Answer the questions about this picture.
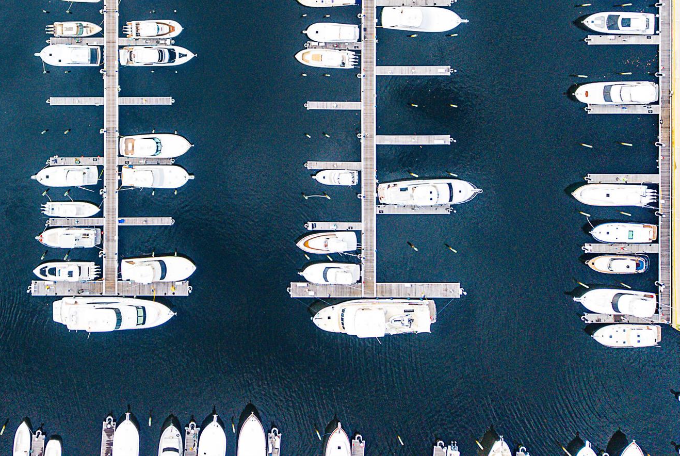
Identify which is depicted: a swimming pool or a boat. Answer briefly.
boat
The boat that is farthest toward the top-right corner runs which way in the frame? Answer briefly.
horizontally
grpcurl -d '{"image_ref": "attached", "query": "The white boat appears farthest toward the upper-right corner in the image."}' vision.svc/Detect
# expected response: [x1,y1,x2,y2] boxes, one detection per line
[581,11,655,35]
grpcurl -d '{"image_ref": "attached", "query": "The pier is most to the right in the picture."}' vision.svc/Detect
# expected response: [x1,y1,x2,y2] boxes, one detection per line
[655,0,671,323]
